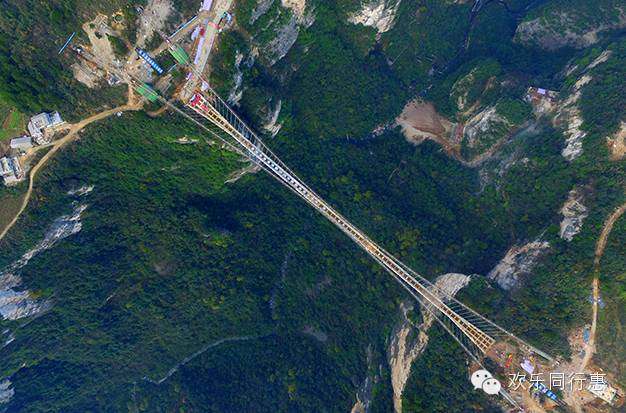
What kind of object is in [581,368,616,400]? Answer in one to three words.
building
